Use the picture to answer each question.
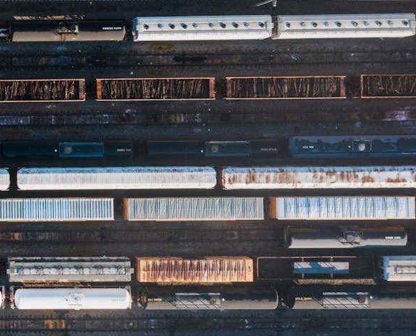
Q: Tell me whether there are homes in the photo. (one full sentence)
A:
No, there isn't any home down there.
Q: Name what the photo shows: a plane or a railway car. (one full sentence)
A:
It is a railway car that can be seen here.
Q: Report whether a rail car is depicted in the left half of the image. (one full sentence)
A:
Yes, I can see a rail car in the left half of the image.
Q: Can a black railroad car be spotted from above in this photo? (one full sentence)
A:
Yes, the image includes a black railroad car.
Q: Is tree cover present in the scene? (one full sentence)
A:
No, there is no tree cover in the image.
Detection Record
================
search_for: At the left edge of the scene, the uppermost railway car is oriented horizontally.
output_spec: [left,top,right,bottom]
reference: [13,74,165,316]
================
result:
[3,17,128,44]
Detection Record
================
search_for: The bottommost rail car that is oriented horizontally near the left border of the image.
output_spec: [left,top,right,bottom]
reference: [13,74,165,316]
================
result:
[8,284,135,312]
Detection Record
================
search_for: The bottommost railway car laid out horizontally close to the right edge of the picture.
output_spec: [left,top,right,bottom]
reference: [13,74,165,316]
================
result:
[279,283,416,311]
